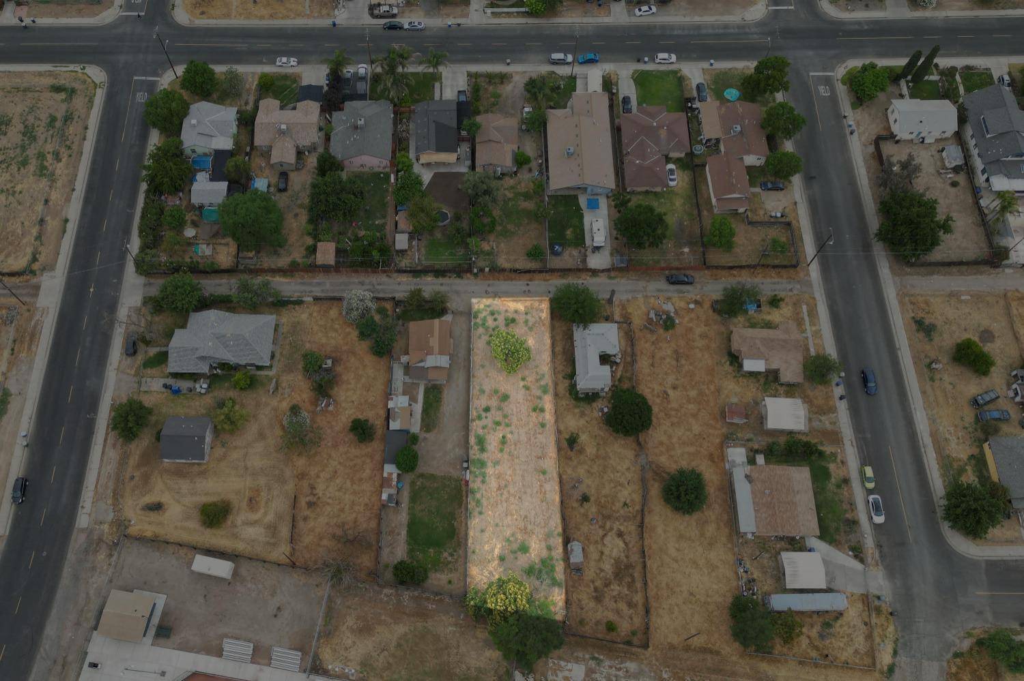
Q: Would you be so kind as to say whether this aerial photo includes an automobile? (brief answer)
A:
Yes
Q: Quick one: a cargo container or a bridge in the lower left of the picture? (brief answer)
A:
cargo container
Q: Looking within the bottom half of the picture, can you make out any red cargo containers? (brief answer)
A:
No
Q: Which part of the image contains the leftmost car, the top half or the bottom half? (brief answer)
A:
bottom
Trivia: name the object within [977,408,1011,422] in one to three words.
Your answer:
car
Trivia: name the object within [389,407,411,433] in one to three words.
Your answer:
shed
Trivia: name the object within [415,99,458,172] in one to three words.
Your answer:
house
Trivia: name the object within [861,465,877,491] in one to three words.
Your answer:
car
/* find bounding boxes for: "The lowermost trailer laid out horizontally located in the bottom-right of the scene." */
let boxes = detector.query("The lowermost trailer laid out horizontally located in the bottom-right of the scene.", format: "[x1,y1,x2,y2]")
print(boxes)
[766,593,847,612]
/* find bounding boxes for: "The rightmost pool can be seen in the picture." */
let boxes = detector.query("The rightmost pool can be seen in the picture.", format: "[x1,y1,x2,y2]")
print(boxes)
[723,88,740,102]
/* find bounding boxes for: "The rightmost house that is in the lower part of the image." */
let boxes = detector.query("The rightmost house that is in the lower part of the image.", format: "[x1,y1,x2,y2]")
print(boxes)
[982,434,1024,512]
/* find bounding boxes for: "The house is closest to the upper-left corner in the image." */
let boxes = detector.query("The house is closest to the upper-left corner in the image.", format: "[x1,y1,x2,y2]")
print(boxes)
[183,101,239,157]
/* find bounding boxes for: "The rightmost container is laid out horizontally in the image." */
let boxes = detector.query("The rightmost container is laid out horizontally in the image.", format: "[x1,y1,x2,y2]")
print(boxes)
[191,554,239,582]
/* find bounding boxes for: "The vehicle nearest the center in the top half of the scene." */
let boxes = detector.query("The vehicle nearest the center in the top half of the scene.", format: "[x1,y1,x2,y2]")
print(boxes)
[591,219,606,255]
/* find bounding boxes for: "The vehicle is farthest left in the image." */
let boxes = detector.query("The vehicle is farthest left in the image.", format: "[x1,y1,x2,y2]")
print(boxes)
[8,473,31,505]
